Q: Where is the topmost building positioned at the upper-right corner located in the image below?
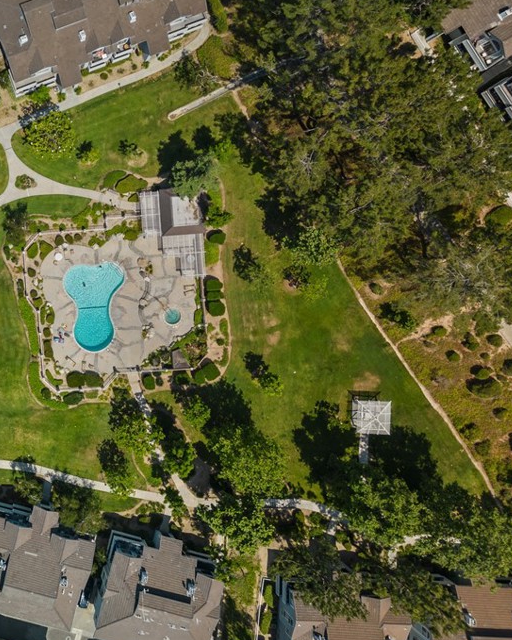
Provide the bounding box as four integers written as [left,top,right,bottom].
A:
[430,0,512,77]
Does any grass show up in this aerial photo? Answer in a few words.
Yes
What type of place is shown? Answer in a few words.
residential area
